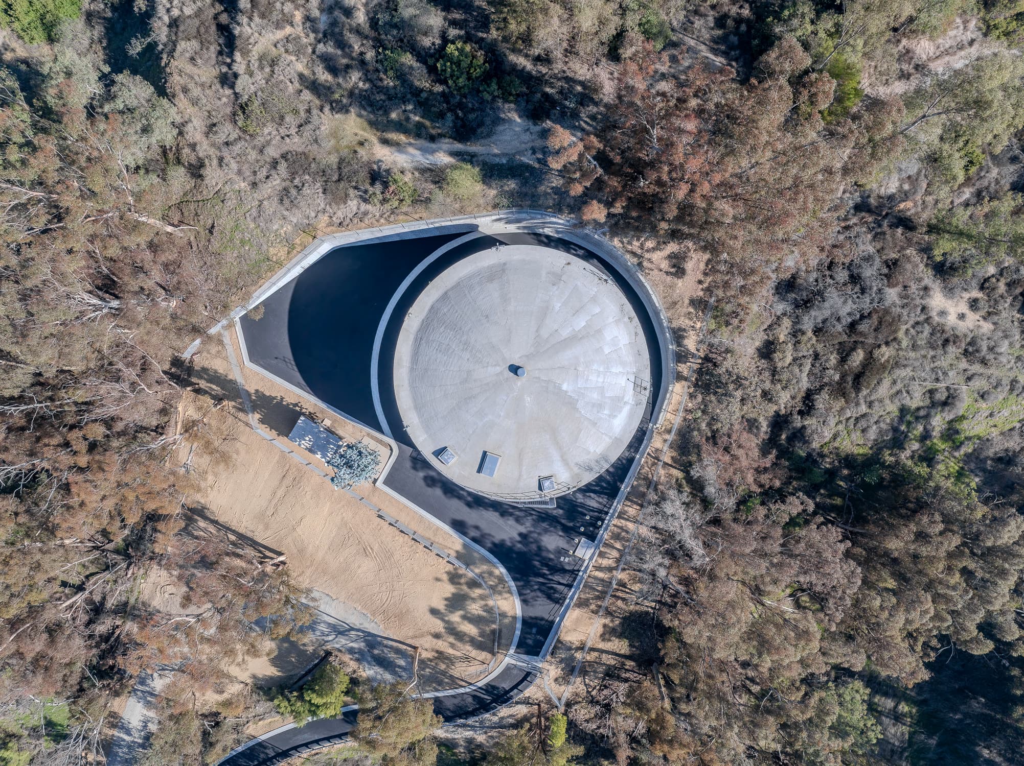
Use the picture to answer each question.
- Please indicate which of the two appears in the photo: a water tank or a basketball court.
water tank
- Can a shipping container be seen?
No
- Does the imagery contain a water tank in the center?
Yes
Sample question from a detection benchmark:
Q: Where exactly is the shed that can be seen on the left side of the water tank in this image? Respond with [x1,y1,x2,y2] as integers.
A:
[287,415,344,462]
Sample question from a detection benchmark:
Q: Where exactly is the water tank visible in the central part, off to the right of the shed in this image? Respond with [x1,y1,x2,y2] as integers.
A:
[393,244,652,511]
